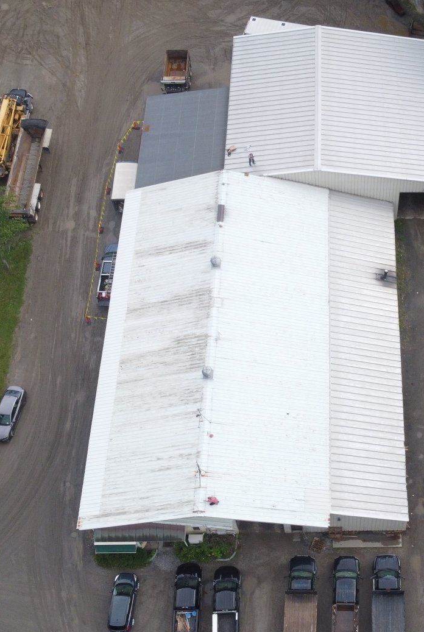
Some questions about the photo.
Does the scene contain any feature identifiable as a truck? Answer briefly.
Yes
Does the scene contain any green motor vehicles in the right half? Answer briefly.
No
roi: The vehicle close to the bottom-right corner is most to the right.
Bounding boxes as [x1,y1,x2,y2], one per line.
[368,557,406,632]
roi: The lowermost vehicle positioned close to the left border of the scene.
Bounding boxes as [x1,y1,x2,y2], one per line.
[0,387,27,439]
